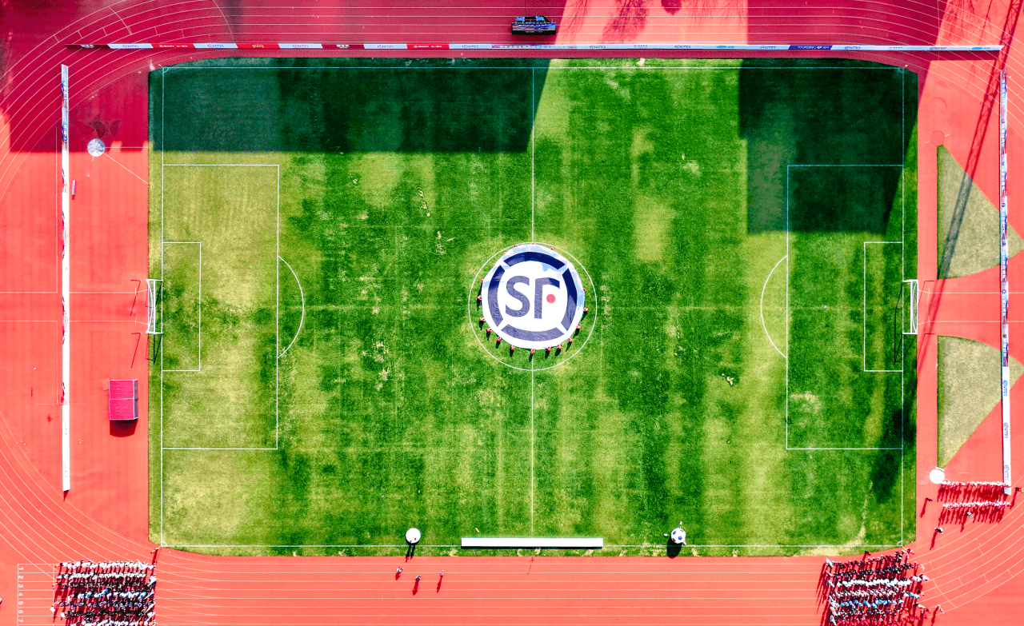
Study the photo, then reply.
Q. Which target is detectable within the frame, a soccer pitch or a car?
soccer pitch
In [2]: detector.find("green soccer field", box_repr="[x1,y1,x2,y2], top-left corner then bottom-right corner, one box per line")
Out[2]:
[148,57,919,557]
